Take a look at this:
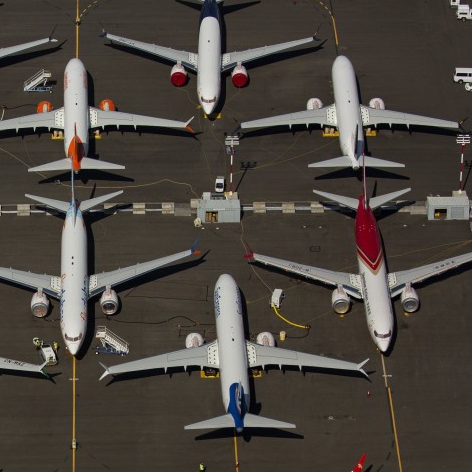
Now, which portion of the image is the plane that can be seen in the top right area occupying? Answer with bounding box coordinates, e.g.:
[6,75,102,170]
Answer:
[232,56,469,170]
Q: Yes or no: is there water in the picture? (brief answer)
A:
No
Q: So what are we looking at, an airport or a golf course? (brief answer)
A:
airport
